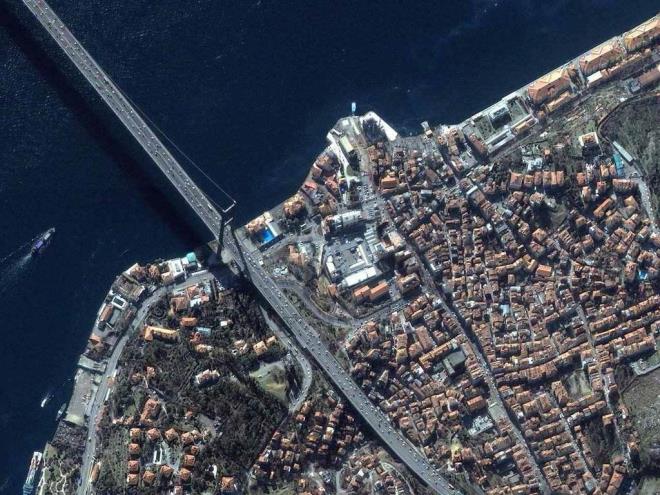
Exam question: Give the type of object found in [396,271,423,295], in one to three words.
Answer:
building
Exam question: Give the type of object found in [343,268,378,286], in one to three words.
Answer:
building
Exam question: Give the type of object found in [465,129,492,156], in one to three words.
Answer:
house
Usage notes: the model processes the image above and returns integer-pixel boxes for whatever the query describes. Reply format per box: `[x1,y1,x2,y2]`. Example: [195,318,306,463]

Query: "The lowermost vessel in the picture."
[19,454,40,495]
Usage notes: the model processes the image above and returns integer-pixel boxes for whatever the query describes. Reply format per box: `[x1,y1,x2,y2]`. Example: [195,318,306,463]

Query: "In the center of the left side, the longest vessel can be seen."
[32,229,54,252]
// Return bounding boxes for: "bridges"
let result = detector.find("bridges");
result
[23,0,468,495]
